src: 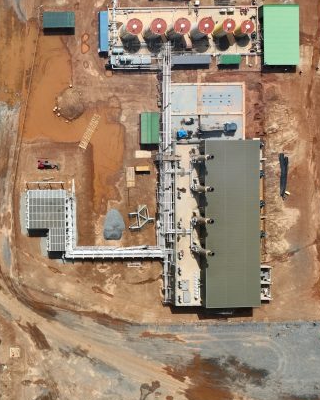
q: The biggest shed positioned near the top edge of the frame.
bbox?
[258,5,300,67]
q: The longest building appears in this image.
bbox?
[198,140,261,308]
